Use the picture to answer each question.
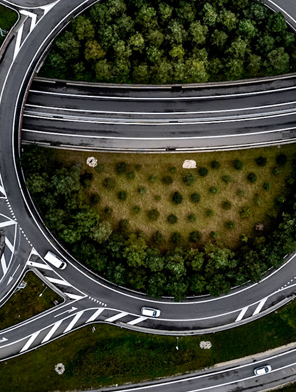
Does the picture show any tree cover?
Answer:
Yes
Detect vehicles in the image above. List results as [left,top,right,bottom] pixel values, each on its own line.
[254,366,273,378]
[141,308,161,319]
[43,252,64,270]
